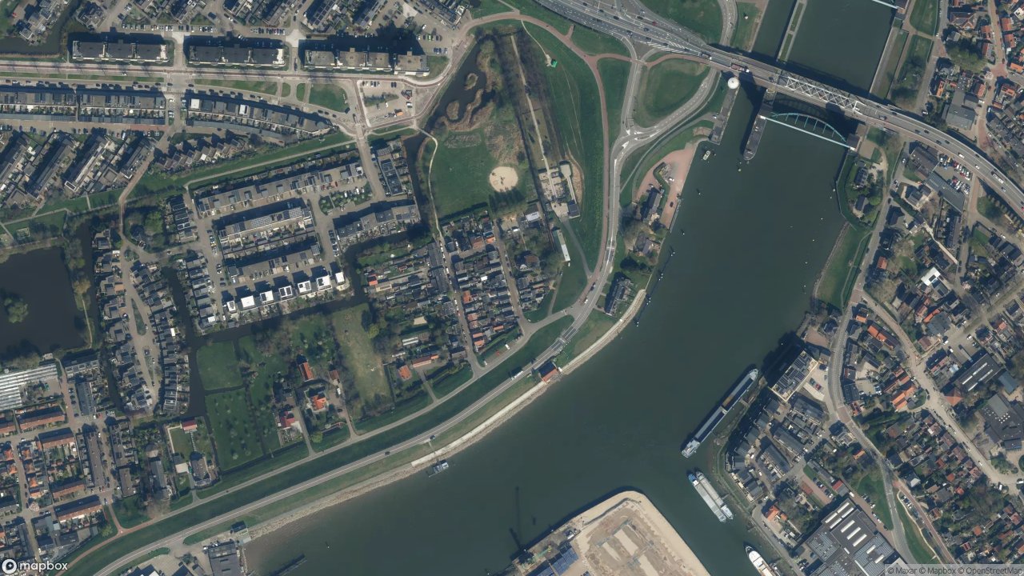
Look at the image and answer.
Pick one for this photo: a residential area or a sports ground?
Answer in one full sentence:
This image shows a residential area.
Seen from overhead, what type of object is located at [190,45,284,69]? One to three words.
building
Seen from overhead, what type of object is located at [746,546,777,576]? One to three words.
ship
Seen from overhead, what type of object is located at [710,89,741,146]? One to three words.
pier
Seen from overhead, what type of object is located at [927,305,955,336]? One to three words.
house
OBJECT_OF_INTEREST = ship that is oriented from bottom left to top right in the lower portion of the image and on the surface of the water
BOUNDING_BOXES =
[683,370,756,456]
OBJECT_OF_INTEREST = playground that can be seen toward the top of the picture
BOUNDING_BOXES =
[490,165,519,191]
